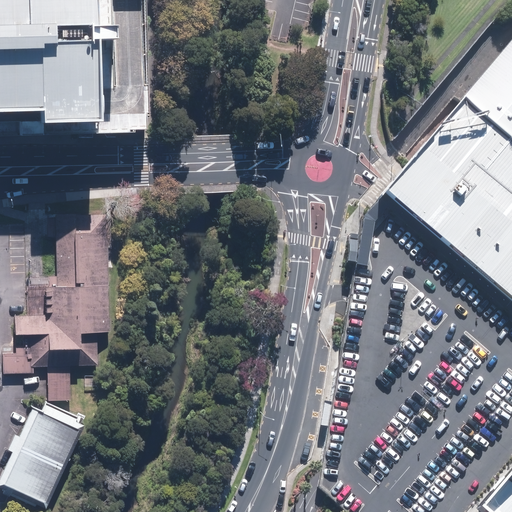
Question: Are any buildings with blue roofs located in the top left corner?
No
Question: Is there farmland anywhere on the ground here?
No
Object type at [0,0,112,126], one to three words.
building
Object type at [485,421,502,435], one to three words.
vehicle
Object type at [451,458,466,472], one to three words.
vehicle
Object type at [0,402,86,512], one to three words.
building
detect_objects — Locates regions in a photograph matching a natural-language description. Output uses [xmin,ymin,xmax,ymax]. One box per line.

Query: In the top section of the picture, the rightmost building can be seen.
[382,44,512,302]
